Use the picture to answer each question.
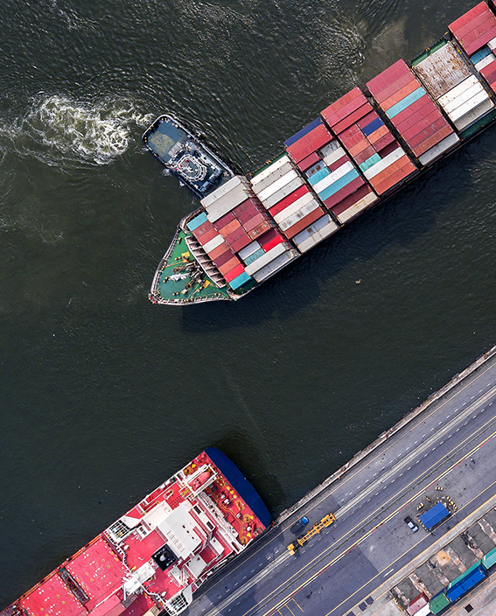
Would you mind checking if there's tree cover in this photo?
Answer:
No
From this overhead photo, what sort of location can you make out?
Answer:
port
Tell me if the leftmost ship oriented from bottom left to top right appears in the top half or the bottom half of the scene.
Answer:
bottom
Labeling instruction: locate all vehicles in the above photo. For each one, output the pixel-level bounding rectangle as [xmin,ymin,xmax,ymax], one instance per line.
[290,516,310,535]
[285,510,339,557]
[403,517,420,533]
